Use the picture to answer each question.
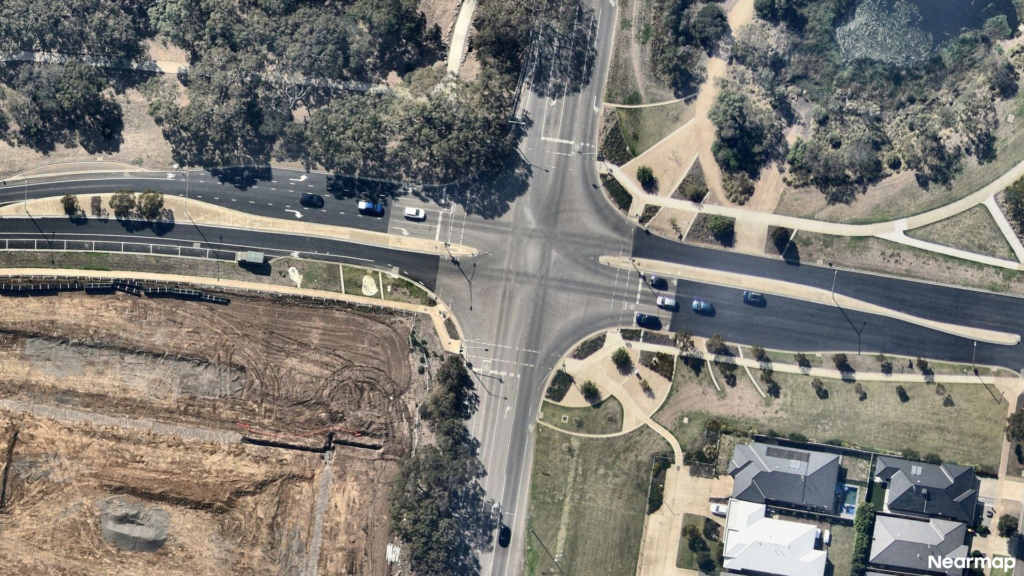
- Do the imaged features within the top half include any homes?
No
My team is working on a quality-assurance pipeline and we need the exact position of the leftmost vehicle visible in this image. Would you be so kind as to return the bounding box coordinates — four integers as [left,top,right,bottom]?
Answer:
[236,251,265,265]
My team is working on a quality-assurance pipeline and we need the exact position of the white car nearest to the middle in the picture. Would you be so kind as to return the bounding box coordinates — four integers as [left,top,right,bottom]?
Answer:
[403,207,427,219]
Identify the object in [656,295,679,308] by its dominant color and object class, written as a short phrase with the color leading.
white vehicle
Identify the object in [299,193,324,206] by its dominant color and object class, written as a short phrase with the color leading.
black vehicle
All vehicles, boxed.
[236,251,265,265]
[650,276,669,287]
[656,295,679,308]
[299,193,324,206]
[692,300,715,312]
[635,313,661,326]
[403,207,427,219]
[498,524,511,547]
[357,200,385,214]
[707,504,728,517]
[741,290,765,304]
